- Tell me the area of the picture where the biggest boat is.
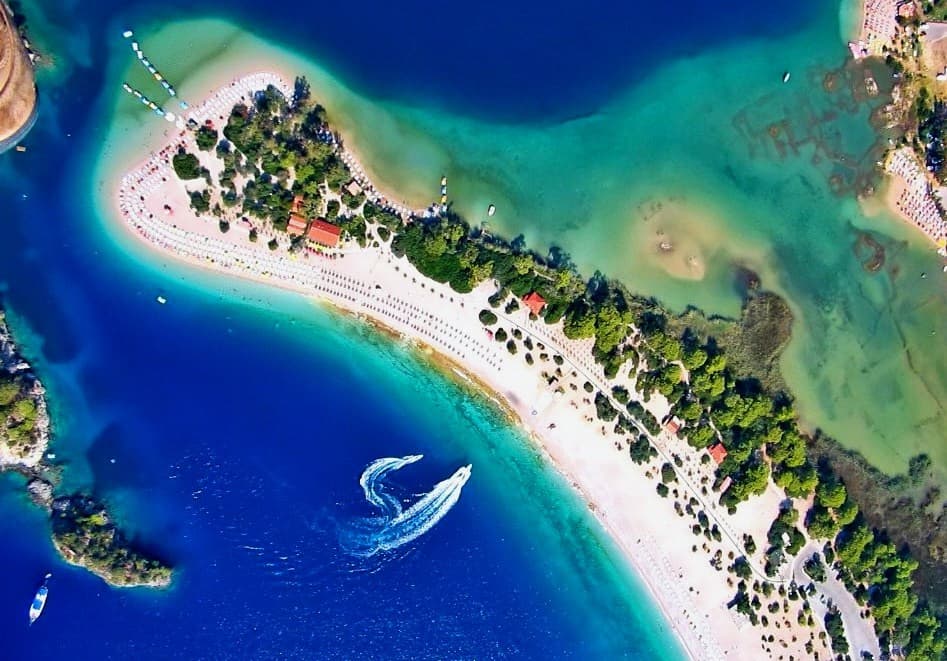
bottom left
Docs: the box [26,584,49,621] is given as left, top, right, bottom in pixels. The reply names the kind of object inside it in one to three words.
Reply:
boat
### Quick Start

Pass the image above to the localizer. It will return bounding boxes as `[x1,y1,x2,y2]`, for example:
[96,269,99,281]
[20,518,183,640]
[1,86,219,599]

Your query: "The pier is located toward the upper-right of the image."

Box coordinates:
[848,42,874,60]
